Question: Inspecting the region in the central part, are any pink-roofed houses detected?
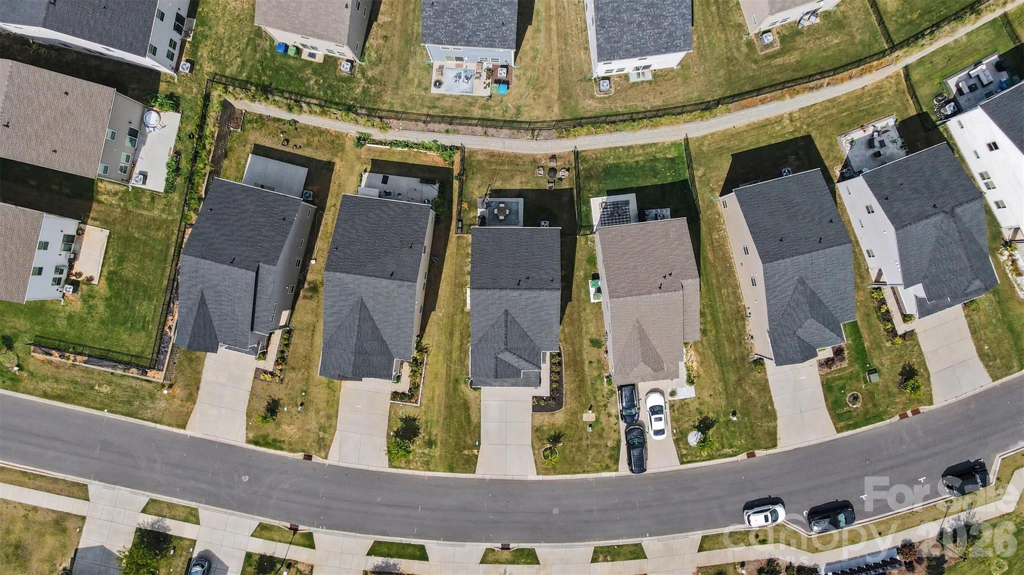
No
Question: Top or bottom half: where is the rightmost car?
bottom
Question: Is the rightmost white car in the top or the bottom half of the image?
bottom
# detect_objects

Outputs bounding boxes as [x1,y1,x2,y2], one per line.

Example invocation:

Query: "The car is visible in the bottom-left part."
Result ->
[189,550,216,575]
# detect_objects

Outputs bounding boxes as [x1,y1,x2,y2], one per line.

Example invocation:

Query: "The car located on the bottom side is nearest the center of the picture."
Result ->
[616,381,641,428]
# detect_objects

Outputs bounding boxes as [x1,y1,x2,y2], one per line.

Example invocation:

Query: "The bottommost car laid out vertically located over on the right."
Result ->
[624,423,650,473]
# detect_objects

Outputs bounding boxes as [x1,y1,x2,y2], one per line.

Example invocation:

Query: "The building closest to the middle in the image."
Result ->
[469,227,563,384]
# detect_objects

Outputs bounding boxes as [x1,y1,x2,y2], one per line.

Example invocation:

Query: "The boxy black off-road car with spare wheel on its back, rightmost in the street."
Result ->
[936,466,989,499]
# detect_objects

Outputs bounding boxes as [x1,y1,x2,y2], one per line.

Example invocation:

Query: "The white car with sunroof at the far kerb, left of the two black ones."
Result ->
[739,501,785,527]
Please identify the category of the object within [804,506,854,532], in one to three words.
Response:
car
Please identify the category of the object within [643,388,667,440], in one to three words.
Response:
car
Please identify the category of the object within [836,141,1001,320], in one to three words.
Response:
house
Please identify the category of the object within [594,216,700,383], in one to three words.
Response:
house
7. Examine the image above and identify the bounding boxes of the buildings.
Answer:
[836,141,1001,320]
[255,0,372,63]
[469,227,563,384]
[594,216,700,383]
[0,60,146,185]
[0,204,80,303]
[0,0,190,73]
[734,0,829,35]
[172,176,317,361]
[421,0,518,67]
[318,192,435,383]
[719,167,857,366]
[584,0,693,79]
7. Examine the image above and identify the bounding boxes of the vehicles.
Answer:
[739,501,785,527]
[624,423,650,473]
[804,506,854,532]
[643,388,667,440]
[189,550,216,575]
[936,466,989,499]
[616,381,641,428]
